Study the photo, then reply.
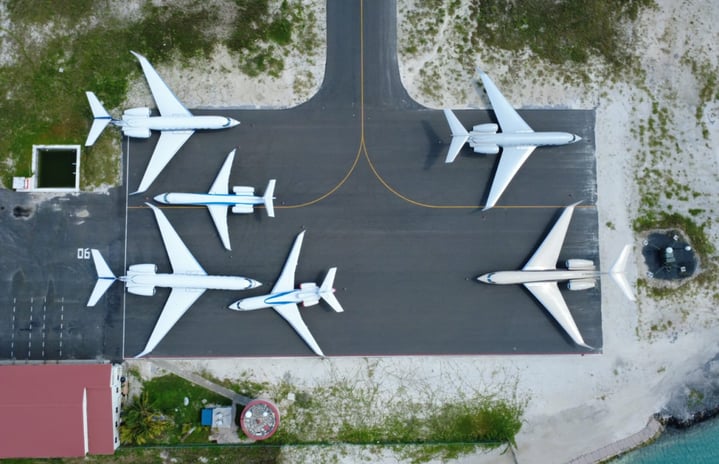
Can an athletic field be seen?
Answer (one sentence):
No, the frame has no athletic field in it.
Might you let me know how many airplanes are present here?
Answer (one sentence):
The number of airplanes here is 6.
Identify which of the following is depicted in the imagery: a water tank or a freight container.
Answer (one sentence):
The one in the frame is a water tank.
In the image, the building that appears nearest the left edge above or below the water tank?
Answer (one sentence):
Within the scene, the building that appears nearest the left edge can be found below the water tank.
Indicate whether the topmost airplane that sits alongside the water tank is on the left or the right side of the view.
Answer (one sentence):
The topmost airplane that sits alongside the water tank sits on the left side.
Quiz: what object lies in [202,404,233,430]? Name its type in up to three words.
shed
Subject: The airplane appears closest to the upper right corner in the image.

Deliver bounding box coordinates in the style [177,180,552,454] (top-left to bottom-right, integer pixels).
[445,64,583,210]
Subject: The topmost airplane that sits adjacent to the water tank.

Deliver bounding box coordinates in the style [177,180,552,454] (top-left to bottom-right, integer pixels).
[84,48,239,194]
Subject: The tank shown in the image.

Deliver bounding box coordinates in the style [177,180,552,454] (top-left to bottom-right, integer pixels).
[32,145,79,191]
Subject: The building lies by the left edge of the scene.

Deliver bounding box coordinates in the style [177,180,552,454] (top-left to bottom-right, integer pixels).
[0,358,122,463]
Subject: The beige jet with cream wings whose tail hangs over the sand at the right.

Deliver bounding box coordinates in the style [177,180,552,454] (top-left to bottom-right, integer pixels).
[477,202,633,348]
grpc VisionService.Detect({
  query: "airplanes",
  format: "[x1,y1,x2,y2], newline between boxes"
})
[445,64,583,210]
[228,231,344,358]
[84,48,239,194]
[154,147,276,249]
[477,202,633,348]
[88,203,263,358]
